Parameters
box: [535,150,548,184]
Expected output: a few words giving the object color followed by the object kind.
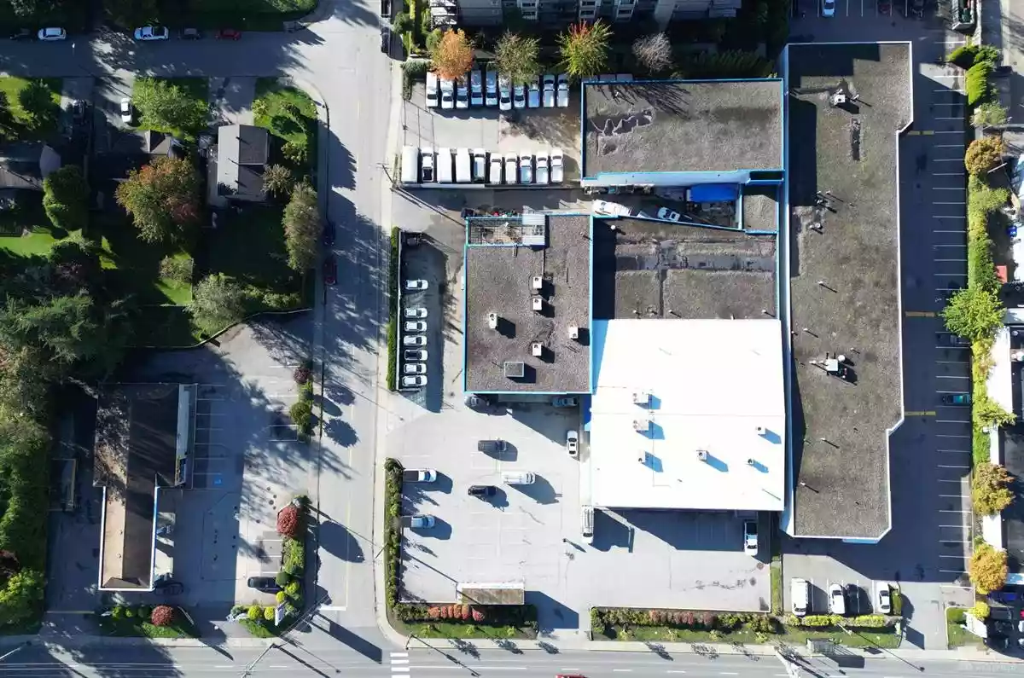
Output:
white vehicle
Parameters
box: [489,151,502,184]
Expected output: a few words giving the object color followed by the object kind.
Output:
white vehicle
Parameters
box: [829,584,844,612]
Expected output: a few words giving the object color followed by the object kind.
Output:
white car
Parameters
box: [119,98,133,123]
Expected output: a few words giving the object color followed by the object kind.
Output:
white car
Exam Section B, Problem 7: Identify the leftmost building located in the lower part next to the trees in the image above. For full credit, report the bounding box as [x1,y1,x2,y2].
[94,383,197,590]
